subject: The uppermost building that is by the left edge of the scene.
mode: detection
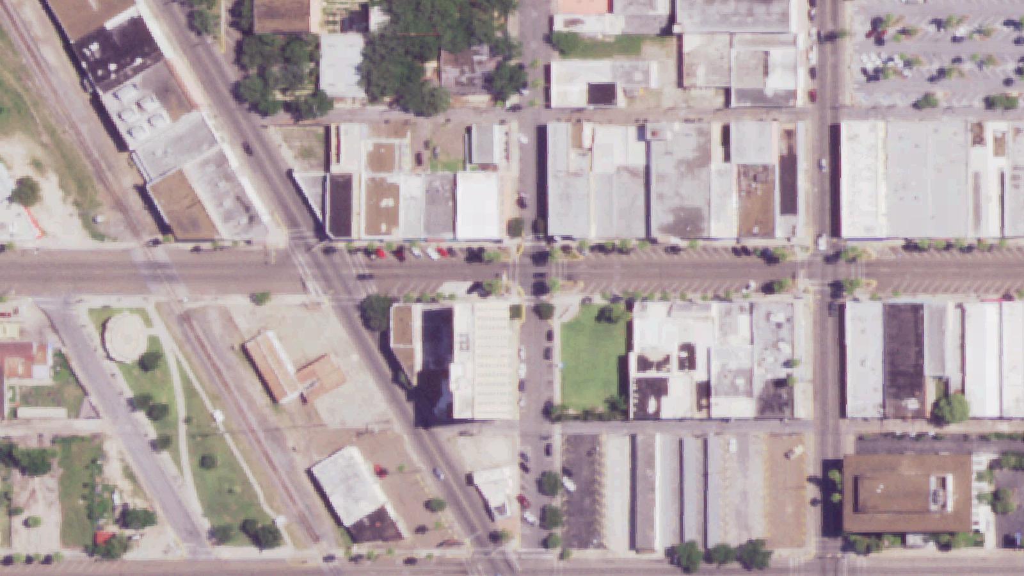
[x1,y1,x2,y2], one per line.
[46,0,137,42]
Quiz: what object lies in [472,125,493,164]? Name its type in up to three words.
house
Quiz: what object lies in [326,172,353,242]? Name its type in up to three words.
building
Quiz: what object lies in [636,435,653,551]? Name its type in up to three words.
shed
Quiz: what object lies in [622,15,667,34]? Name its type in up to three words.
building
